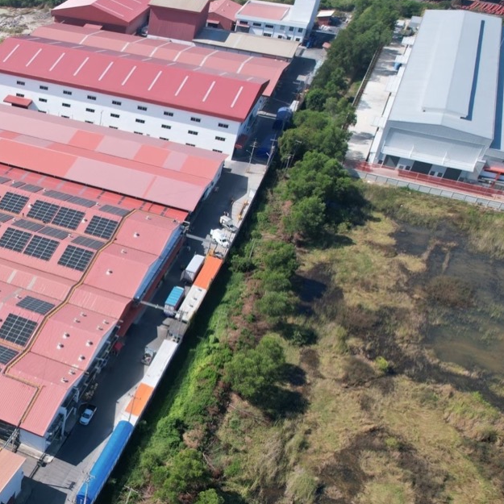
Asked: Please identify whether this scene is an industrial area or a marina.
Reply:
industrial area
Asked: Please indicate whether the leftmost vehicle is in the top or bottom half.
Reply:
bottom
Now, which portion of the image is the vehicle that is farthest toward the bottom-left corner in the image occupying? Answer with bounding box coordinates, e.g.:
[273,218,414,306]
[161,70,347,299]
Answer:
[77,403,98,426]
